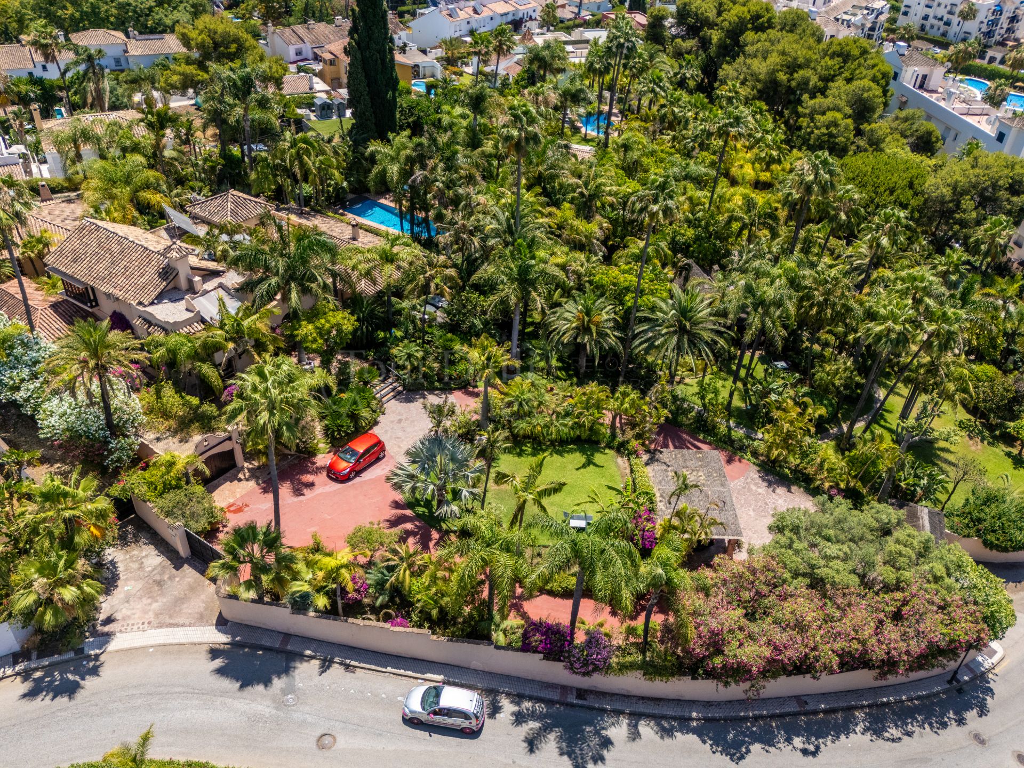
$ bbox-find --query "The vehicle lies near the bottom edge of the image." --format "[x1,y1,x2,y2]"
[400,679,488,735]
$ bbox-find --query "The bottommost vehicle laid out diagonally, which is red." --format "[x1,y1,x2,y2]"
[327,431,388,479]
